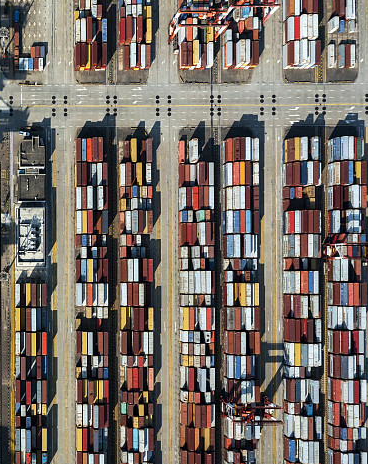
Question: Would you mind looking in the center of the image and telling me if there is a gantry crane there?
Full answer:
No, I can find no gantry crane in the center of the image.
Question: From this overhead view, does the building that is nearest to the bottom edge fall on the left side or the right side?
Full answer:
The building that is nearest to the bottom edge is on the left side of the image.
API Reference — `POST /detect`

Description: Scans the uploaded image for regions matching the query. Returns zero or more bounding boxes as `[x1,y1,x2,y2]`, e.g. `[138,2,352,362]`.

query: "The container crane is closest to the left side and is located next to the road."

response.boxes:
[167,9,227,45]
